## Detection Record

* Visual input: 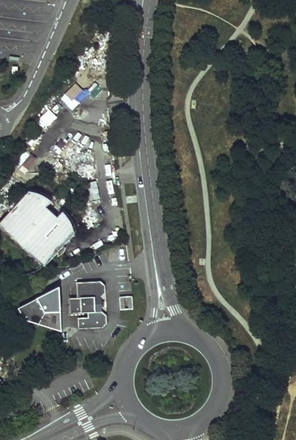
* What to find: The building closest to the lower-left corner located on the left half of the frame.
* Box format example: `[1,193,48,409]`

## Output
[18,288,61,332]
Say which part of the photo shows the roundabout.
bottom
